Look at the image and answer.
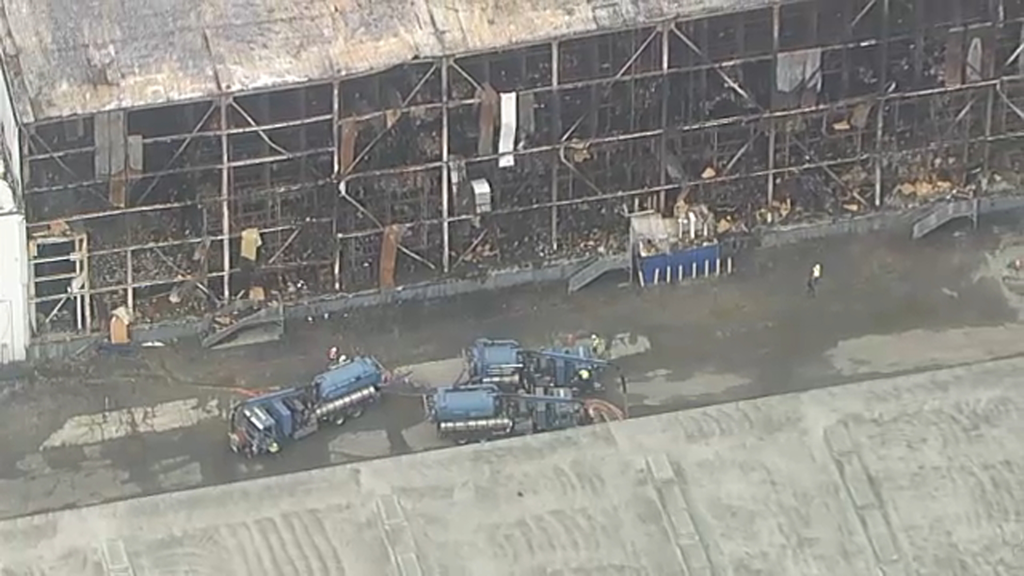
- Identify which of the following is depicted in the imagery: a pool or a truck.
truck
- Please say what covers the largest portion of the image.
buildings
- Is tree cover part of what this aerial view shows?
No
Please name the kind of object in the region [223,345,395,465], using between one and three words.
truck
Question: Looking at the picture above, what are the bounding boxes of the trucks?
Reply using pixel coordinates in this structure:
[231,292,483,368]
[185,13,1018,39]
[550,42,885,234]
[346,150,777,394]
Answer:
[465,331,619,404]
[424,378,590,446]
[223,345,395,465]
